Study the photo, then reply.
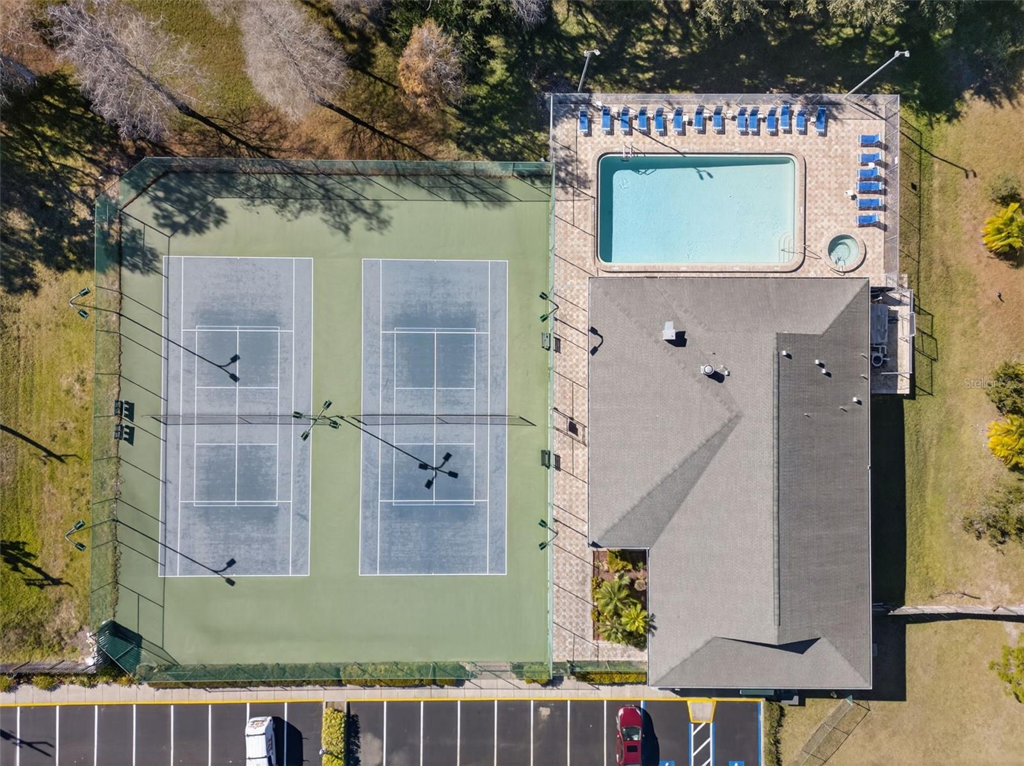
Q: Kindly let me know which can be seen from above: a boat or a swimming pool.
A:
swimming pool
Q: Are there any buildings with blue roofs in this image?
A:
No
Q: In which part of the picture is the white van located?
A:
bottom left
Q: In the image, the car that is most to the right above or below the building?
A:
below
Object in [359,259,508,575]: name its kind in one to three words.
tennis court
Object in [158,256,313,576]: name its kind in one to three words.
tennis court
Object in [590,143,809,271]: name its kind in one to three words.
swimming pool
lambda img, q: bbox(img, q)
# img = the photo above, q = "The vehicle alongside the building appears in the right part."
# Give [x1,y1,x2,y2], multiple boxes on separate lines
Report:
[617,705,646,766]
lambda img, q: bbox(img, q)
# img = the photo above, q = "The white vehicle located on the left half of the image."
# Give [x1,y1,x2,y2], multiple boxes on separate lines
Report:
[243,716,279,766]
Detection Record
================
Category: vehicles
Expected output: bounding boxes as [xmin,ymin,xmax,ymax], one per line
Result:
[617,705,646,766]
[243,716,279,766]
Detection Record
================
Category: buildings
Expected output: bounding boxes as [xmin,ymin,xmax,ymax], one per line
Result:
[587,276,873,696]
